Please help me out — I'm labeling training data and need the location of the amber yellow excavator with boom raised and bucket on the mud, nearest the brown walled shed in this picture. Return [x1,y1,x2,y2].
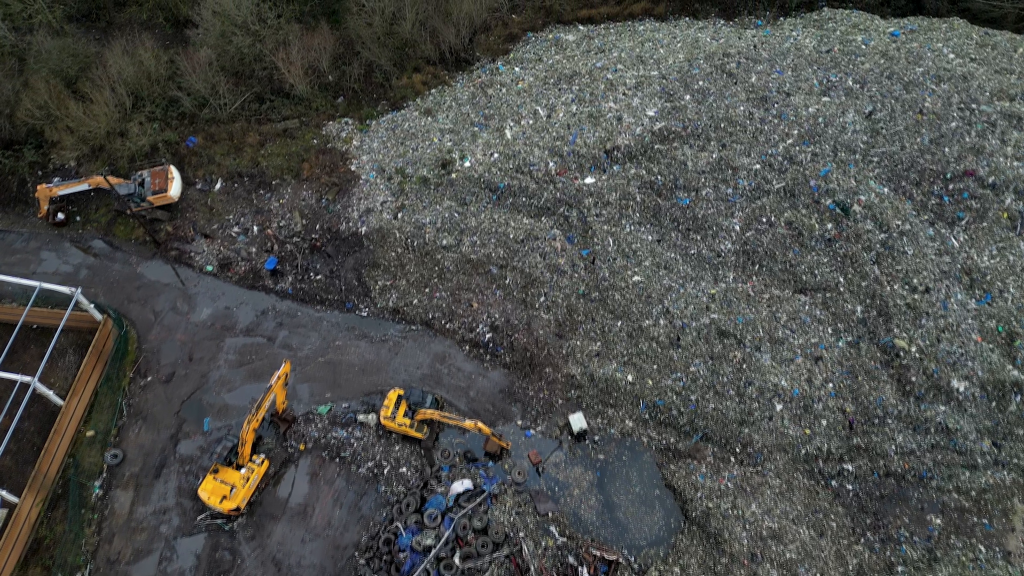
[199,356,300,517]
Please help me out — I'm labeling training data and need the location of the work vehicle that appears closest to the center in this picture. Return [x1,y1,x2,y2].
[376,384,517,461]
